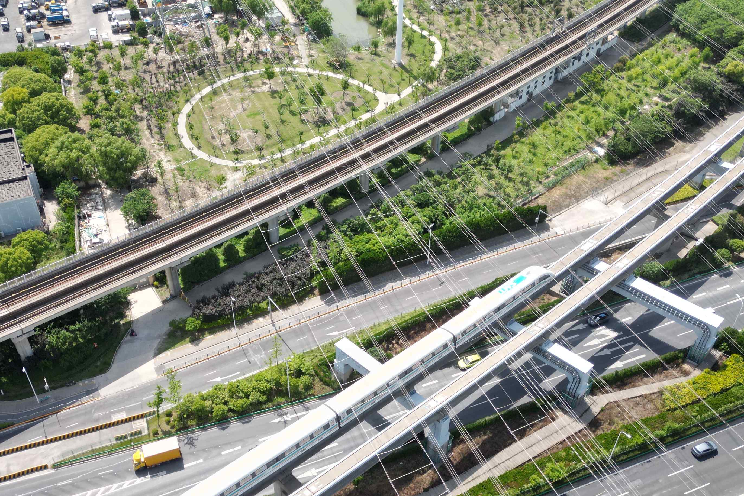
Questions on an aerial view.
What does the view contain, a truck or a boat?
truck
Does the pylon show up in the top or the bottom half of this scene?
top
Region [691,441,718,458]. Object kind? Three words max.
car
